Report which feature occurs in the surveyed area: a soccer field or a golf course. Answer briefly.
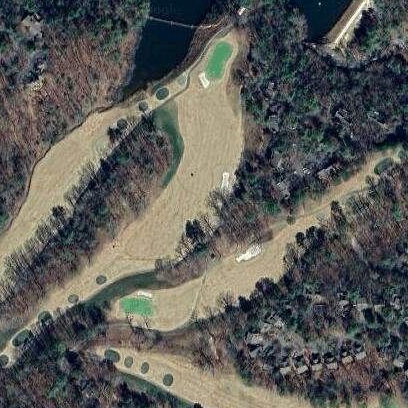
golf course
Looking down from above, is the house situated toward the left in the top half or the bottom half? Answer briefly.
top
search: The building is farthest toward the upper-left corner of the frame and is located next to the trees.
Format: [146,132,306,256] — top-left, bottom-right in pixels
[21,14,42,40]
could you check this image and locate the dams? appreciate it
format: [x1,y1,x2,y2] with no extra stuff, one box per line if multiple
[317,0,375,53]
